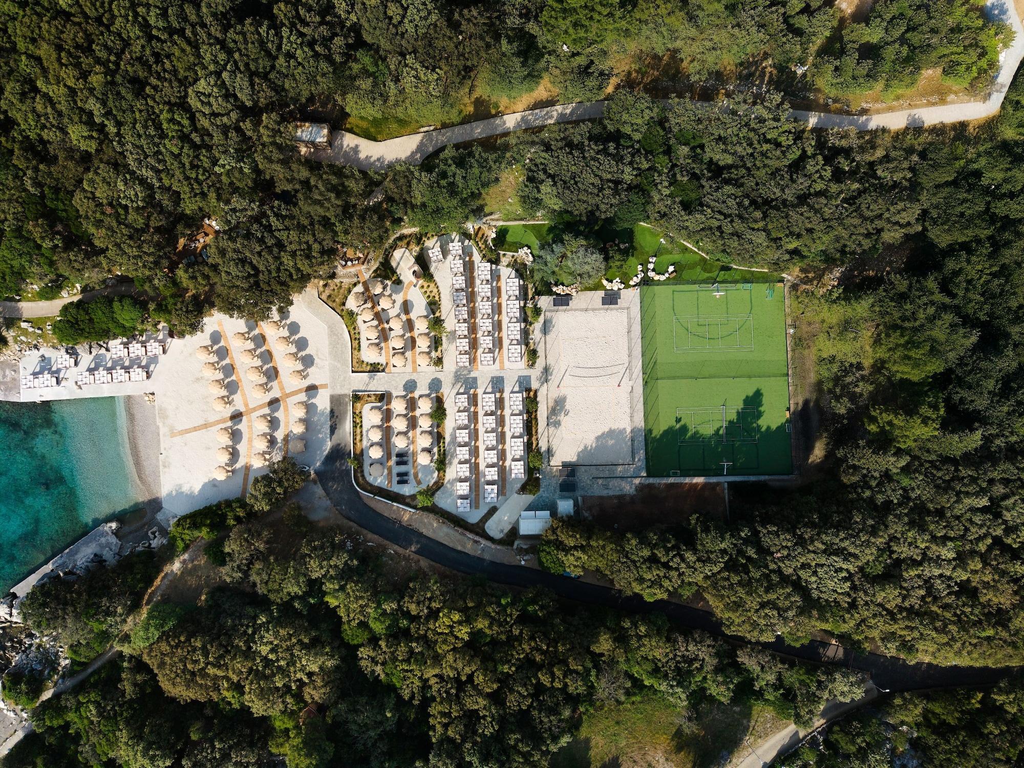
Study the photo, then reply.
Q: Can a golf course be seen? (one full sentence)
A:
Yes, the image includes a golf course.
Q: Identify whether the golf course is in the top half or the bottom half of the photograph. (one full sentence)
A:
The golf course is in the top half of the image.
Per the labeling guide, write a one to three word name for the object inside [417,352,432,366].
umbrella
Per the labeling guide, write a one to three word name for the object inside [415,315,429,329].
umbrella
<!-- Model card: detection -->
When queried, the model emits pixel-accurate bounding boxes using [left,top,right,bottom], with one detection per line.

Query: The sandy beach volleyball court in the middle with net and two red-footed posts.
[545,308,634,467]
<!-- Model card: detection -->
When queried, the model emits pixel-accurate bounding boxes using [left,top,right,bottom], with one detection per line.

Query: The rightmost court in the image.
[640,283,793,477]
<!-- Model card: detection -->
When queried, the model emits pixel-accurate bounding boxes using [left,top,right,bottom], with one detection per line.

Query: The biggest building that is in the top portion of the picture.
[295,123,332,148]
